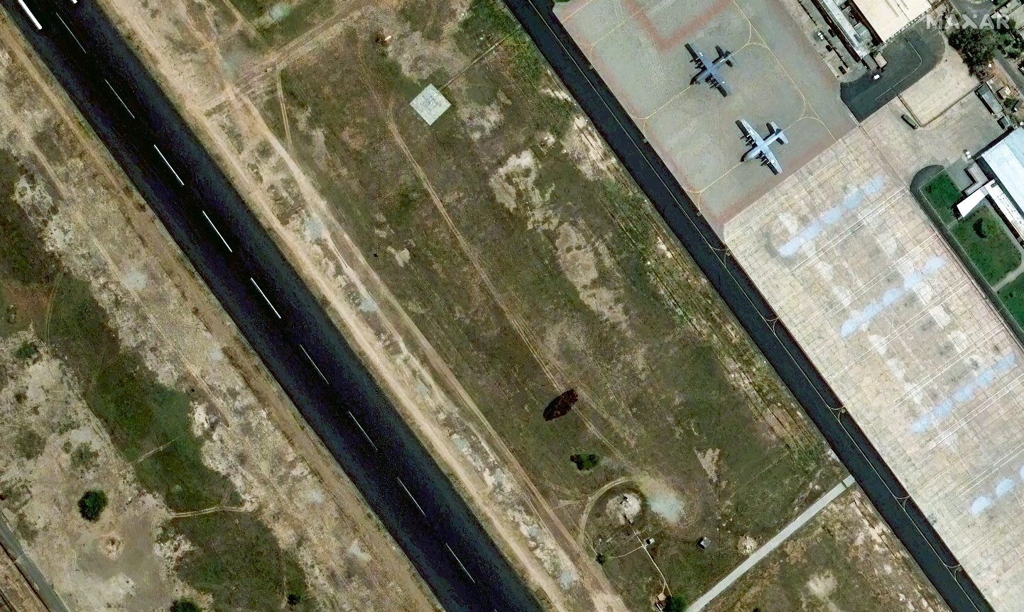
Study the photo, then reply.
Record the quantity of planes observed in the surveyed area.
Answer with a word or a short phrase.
2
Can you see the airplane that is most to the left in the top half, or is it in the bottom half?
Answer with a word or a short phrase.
top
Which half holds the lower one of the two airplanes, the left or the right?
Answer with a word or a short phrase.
right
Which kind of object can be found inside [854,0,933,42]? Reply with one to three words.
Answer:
hangar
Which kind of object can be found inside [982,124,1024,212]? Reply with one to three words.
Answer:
building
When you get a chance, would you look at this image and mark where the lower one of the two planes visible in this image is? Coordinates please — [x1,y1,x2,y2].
[741,119,790,173]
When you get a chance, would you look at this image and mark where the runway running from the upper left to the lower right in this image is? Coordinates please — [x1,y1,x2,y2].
[0,0,547,612]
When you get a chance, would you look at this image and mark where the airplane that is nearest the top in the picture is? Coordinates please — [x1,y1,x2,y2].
[690,42,740,96]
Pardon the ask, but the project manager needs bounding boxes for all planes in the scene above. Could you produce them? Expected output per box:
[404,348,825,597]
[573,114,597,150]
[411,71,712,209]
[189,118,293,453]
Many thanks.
[690,42,740,96]
[741,119,790,173]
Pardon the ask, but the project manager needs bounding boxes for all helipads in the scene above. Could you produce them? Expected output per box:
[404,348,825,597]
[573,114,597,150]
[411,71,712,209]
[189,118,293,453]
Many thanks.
[410,83,452,126]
